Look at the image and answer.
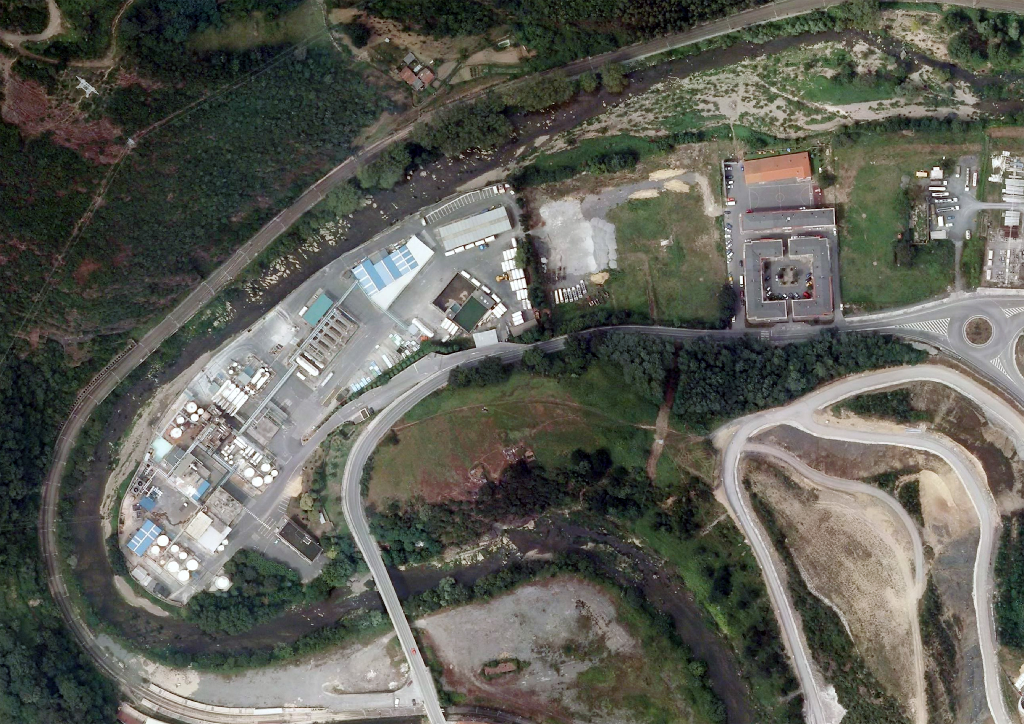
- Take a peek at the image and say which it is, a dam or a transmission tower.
transmission tower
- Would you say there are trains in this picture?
Yes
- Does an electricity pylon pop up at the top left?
Yes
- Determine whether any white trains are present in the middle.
No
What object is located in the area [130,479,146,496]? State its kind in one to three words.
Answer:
cooling tower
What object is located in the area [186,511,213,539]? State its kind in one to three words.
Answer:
shed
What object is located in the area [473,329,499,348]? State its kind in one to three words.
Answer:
building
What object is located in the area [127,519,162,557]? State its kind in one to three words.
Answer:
building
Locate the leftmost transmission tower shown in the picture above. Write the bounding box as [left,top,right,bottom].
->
[69,75,94,100]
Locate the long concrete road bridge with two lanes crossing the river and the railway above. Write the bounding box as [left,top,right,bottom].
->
[355,525,449,724]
